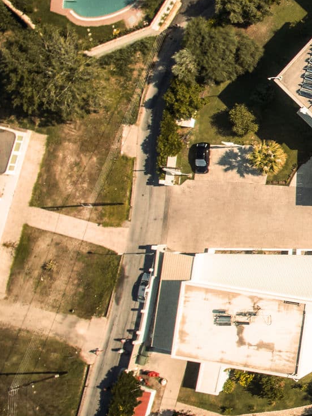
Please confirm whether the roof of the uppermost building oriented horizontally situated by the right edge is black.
No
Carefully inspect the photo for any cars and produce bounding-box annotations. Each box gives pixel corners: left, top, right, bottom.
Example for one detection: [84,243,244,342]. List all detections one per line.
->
[136,271,152,302]
[194,142,212,174]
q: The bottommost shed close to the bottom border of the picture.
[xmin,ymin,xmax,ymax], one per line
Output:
[132,384,165,416]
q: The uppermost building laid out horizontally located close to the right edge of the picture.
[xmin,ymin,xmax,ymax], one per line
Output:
[191,253,312,303]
